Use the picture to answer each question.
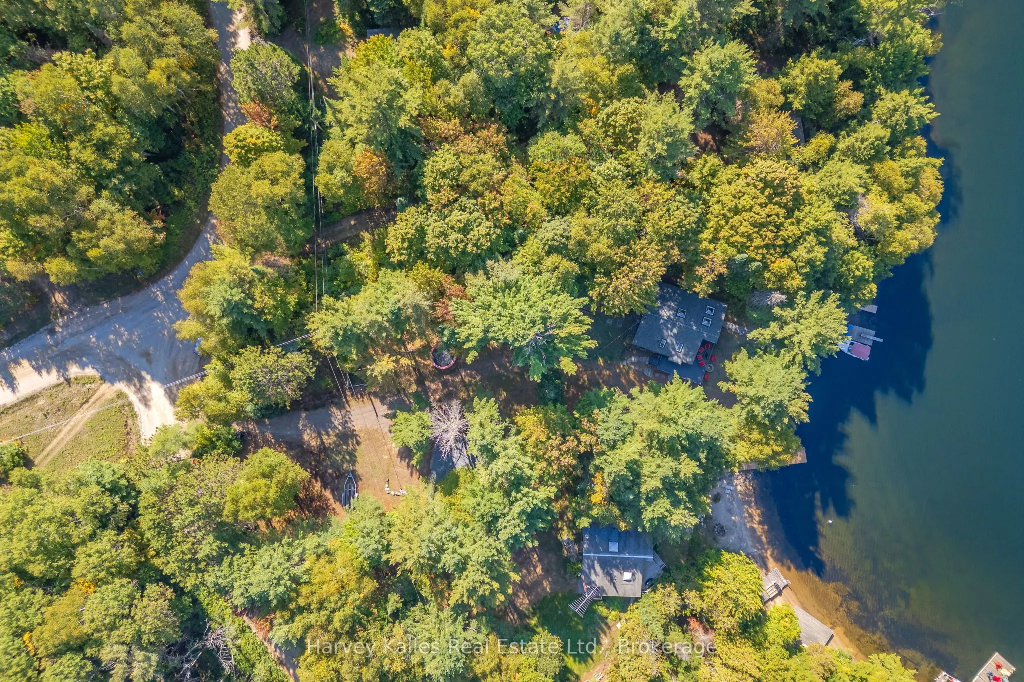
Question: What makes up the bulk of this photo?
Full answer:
The scene is dominated by trees.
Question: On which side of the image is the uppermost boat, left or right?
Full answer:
The uppermost boat appears in the right half of the scene.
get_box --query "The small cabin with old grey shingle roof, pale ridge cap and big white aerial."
[577,524,667,599]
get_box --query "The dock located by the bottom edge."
[968,648,1016,682]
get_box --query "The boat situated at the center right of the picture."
[831,339,874,360]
